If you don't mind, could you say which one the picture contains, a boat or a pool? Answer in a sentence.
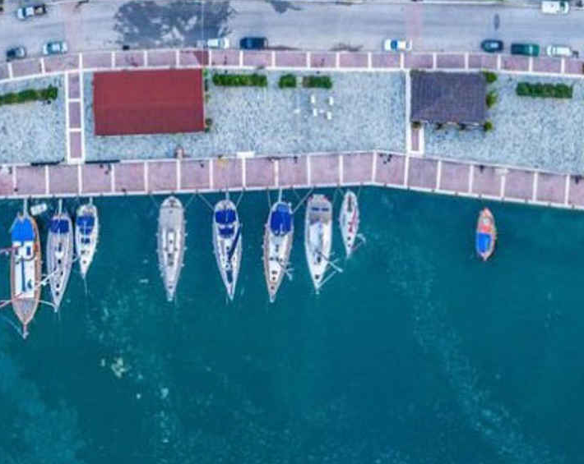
This aerial view contains a boat.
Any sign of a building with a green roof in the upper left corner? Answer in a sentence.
No, no building with a green roof appears in the upper left corner.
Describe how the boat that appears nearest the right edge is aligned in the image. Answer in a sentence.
What the image shows is the boat that appears nearest the right edge lying up and down.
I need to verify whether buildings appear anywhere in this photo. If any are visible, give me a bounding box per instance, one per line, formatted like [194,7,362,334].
[408,70,488,123]
[92,69,207,135]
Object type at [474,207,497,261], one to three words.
boat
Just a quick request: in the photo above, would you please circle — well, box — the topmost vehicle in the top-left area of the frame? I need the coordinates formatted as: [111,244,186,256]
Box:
[17,2,49,20]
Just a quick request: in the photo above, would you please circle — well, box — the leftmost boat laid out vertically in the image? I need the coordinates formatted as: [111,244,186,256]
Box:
[0,197,42,342]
